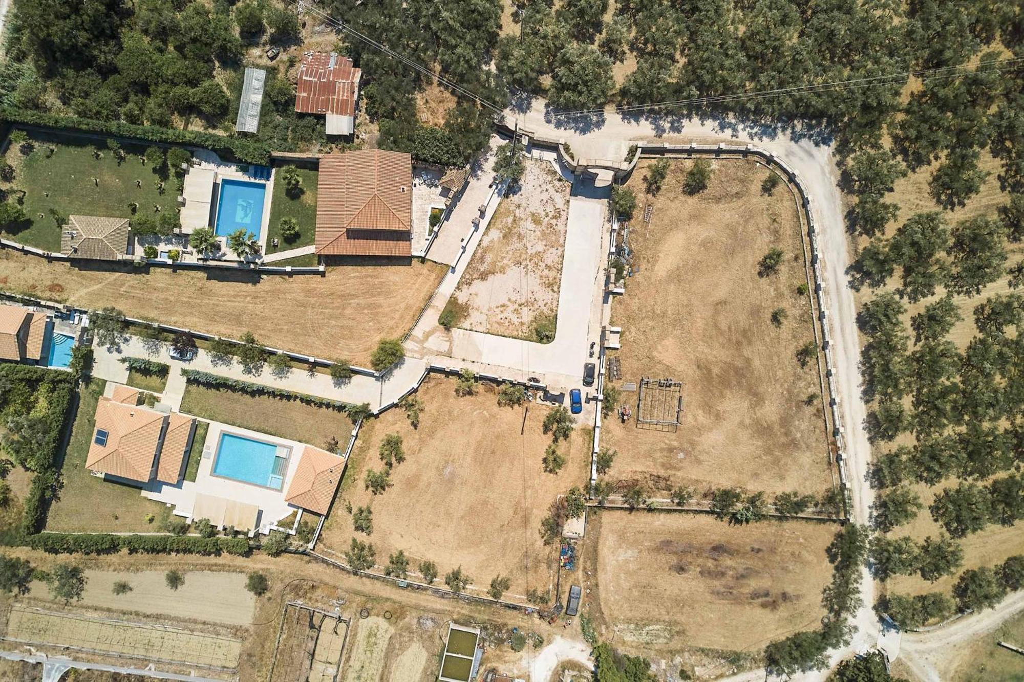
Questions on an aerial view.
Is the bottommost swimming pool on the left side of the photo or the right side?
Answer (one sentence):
You can find the bottommost swimming pool on the left side of the picture.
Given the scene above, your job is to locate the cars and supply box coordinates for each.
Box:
[169,348,196,362]
[583,362,595,386]
[566,585,581,615]
[570,389,583,413]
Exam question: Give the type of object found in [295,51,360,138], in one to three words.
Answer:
barn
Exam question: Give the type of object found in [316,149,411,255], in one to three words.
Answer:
house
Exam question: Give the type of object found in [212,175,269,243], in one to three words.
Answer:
swimming pool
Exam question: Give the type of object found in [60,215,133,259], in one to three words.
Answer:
building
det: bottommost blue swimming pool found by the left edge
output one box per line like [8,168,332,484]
[45,331,77,370]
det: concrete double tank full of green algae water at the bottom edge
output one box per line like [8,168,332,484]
[438,621,481,682]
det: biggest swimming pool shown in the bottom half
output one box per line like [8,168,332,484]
[209,430,291,493]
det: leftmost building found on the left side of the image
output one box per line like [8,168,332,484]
[0,306,53,361]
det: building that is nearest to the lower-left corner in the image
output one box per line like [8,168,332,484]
[85,383,193,484]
